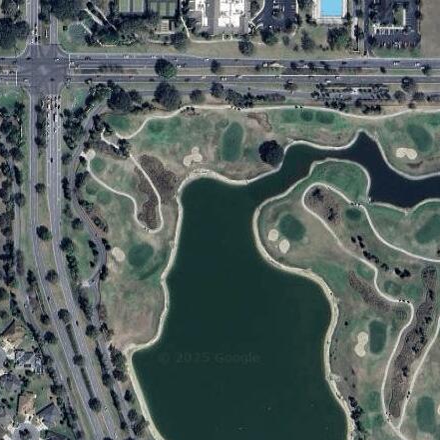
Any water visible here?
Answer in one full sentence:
Yes, there is water in the image.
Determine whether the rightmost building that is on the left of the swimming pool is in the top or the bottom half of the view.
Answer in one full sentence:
Seen from above, the rightmost building that is on the left of the swimming pool lies in the top half of the view.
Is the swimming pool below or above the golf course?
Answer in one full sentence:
Looking at the scene, the swimming pool is located above the golf course.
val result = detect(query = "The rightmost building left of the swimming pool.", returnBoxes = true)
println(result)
[214,0,250,34]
